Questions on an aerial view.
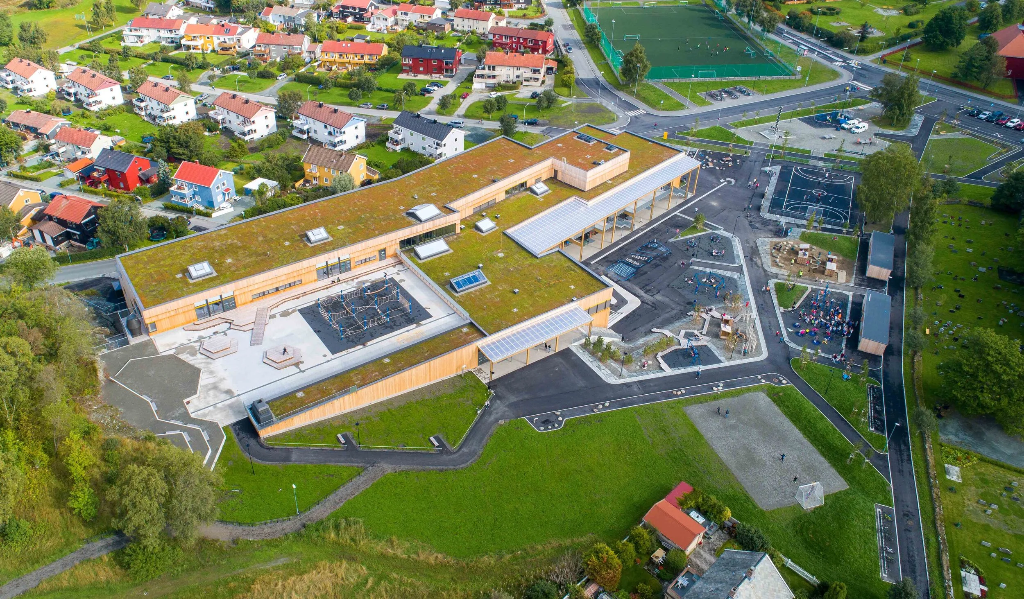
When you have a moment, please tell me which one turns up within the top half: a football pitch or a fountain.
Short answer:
football pitch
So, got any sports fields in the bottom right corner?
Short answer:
Yes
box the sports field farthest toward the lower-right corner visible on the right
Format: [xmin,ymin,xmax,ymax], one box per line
[684,391,849,510]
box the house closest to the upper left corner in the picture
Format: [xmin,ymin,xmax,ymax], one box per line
[2,57,60,99]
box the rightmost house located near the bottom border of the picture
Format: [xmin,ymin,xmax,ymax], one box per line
[683,549,798,599]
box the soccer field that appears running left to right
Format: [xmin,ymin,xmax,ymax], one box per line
[592,5,791,79]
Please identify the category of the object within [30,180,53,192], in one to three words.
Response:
vehicle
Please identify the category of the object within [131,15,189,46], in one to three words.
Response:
house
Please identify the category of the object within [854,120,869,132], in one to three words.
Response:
vehicle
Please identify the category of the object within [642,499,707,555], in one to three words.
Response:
shed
